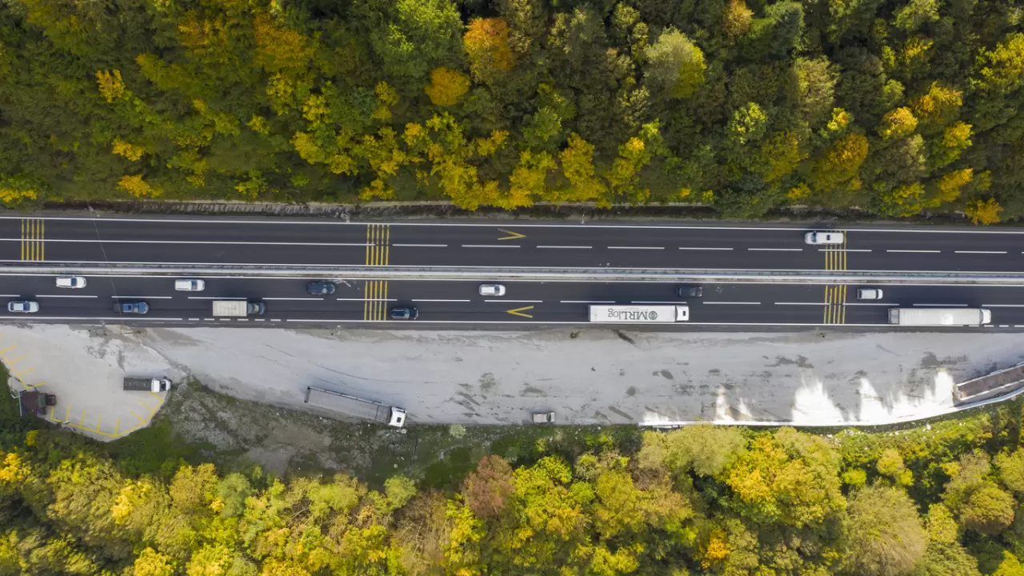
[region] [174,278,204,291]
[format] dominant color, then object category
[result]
white vehicle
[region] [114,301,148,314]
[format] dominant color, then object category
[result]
blue vehicle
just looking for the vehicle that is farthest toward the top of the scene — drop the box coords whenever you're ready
[803,230,846,245]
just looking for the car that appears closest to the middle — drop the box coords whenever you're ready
[480,284,505,296]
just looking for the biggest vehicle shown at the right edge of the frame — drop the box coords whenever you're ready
[890,307,988,327]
